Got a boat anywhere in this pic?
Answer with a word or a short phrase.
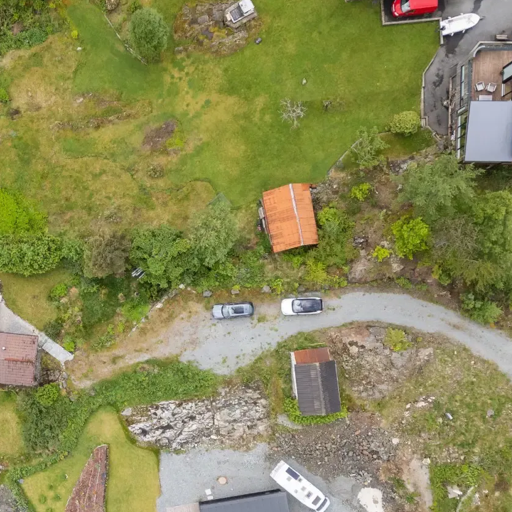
Yes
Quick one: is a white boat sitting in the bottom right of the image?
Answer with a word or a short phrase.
No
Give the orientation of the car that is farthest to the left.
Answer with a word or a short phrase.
from side to side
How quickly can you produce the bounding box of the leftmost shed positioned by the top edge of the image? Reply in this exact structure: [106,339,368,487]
[223,0,257,30]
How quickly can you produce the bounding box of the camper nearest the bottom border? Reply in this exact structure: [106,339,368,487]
[268,460,326,512]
